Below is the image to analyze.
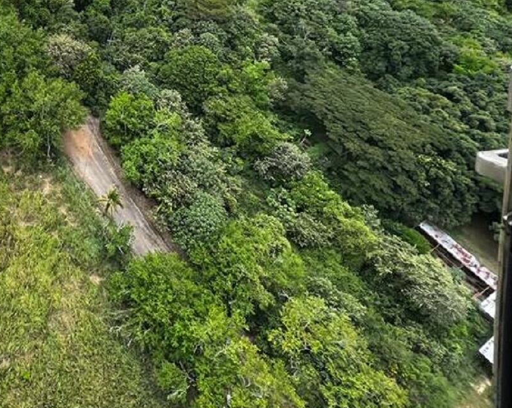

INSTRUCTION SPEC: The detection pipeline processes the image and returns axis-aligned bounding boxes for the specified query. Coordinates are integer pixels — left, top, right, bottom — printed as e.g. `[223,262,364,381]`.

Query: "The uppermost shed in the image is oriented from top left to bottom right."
[412,223,502,303]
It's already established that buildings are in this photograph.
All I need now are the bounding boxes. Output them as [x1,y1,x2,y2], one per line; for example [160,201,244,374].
[412,223,502,303]
[477,339,499,377]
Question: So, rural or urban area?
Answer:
rural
